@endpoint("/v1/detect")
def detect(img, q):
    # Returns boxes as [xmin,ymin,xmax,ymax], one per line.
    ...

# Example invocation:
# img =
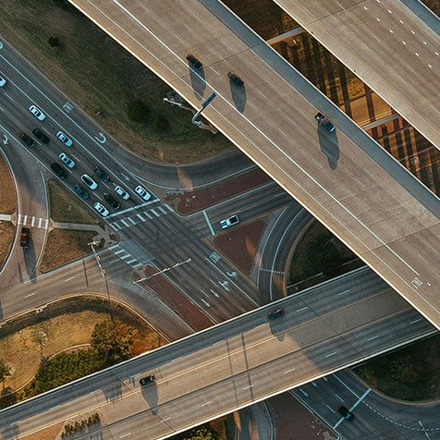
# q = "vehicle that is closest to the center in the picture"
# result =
[220,215,241,228]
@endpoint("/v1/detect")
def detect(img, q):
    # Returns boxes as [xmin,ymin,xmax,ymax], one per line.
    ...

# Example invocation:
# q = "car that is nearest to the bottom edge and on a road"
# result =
[338,406,353,422]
